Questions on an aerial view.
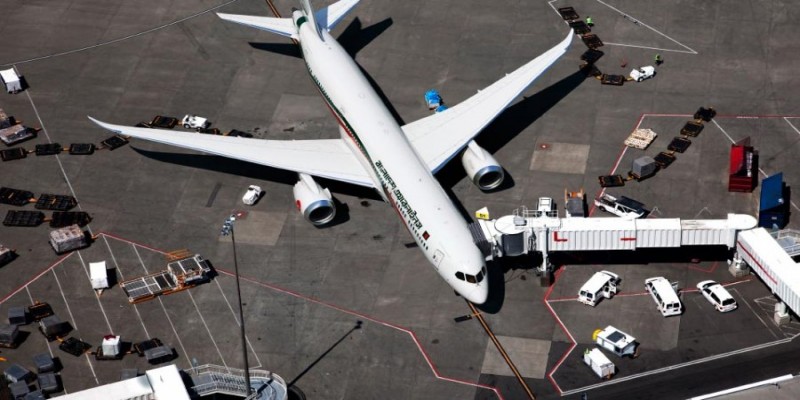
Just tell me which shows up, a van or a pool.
van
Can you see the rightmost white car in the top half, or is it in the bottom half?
bottom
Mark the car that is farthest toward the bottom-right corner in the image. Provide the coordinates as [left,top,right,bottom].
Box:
[695,281,738,315]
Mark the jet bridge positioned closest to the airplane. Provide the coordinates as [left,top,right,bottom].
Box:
[471,203,764,286]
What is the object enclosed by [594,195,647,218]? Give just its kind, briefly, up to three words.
truck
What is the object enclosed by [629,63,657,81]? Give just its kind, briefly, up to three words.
work vehicle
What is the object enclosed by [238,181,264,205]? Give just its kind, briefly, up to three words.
car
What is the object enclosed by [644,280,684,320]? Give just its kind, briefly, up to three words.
van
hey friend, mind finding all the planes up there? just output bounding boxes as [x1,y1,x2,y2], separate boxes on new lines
[88,0,573,303]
